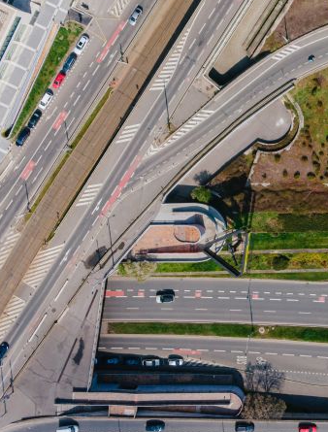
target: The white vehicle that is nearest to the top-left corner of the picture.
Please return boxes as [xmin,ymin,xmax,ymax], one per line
[74,33,89,54]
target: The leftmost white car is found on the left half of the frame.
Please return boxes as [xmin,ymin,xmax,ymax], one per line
[38,89,54,109]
